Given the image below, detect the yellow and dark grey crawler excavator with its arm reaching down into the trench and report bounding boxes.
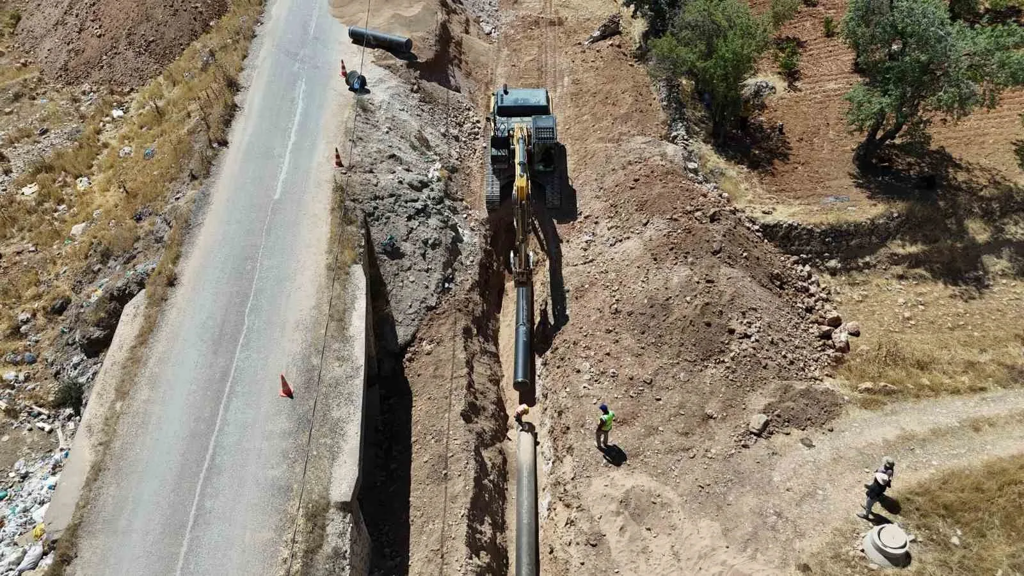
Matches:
[482,79,563,280]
